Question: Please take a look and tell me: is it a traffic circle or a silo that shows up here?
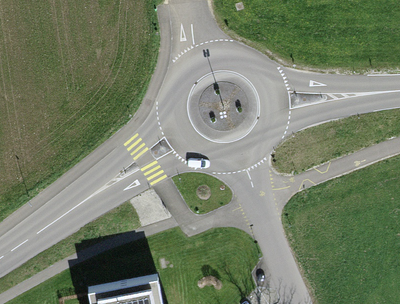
traffic circle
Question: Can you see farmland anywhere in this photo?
Yes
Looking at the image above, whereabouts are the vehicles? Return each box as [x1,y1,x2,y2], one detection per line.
[188,160,210,170]
[257,272,266,284]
